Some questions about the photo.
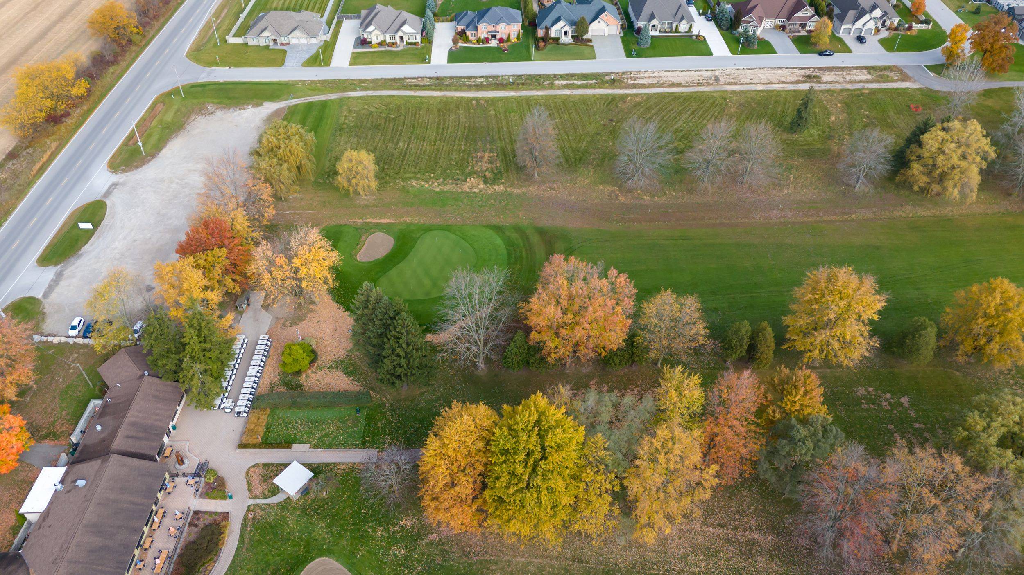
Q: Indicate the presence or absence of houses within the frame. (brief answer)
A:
Yes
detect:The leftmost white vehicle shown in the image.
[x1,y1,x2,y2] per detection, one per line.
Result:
[67,316,84,336]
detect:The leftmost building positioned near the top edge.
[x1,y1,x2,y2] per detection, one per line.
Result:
[243,9,327,46]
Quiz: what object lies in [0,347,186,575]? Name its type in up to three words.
building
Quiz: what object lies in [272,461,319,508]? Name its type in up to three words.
building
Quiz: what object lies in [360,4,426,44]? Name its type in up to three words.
house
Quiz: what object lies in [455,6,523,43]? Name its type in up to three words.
house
